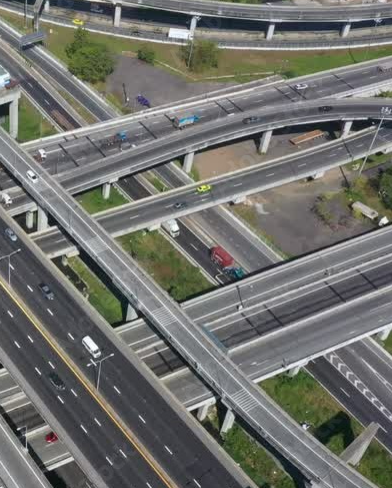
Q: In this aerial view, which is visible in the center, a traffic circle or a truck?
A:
truck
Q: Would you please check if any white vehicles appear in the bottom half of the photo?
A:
Yes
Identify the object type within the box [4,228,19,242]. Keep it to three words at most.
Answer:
vehicle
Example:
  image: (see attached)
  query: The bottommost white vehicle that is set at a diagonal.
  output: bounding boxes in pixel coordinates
[81,335,102,359]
